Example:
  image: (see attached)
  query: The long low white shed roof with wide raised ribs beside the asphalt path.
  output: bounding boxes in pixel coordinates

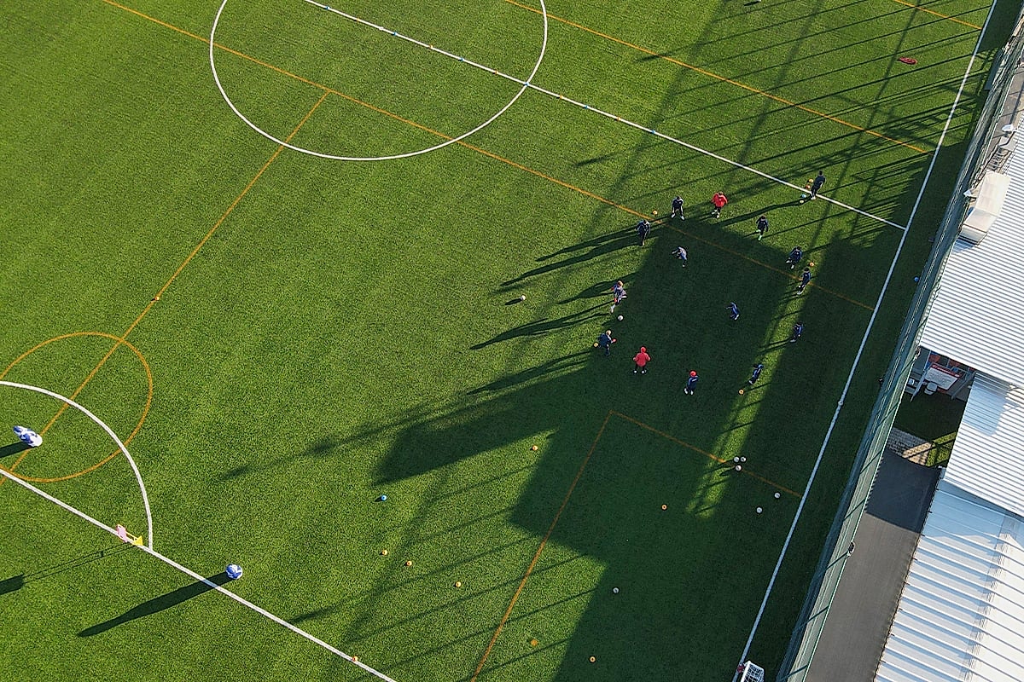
[877,489,1024,682]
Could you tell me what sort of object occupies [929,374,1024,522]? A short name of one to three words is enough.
shed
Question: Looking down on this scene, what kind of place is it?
sports ground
